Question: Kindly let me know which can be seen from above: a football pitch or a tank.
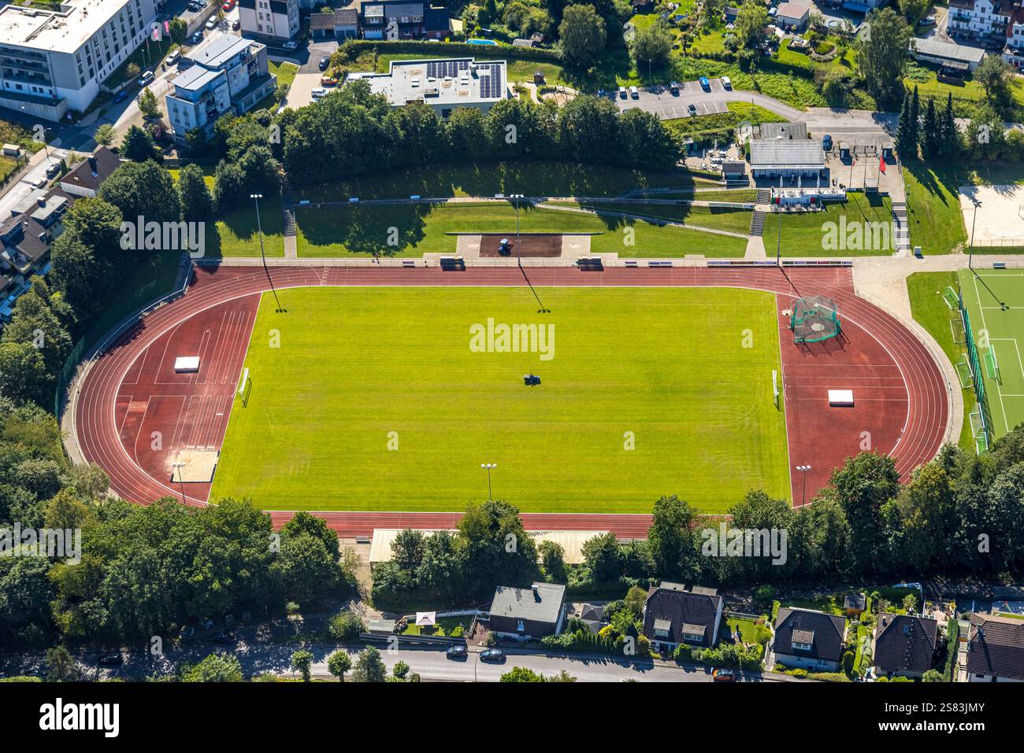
football pitch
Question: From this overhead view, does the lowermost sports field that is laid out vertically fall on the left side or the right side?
right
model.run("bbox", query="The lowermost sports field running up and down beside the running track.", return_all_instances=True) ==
[959,269,1024,435]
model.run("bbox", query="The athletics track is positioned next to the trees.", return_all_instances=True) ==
[76,266,947,540]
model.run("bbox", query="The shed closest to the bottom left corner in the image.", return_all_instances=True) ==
[363,612,397,638]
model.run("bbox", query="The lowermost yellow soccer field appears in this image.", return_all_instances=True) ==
[209,286,792,514]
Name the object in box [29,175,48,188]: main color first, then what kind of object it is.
white vehicle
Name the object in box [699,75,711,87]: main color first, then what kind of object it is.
blue vehicle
